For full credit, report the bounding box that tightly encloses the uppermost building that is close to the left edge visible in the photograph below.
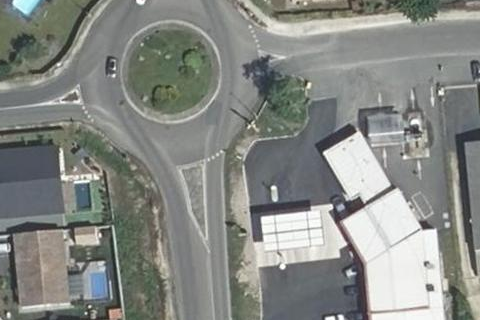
[0,144,65,218]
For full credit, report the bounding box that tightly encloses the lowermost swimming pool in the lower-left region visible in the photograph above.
[82,260,110,300]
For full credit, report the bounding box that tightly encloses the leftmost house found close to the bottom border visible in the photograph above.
[12,229,73,312]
